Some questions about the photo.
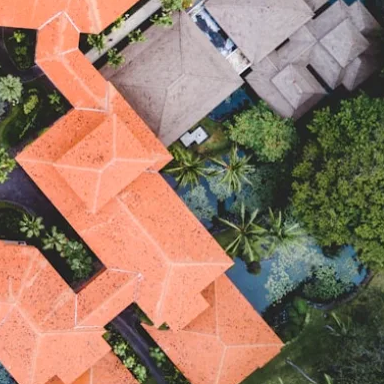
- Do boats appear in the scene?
No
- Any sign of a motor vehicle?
No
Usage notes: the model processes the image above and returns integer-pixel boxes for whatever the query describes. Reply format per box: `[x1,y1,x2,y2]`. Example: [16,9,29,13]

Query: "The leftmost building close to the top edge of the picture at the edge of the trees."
[100,9,244,144]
